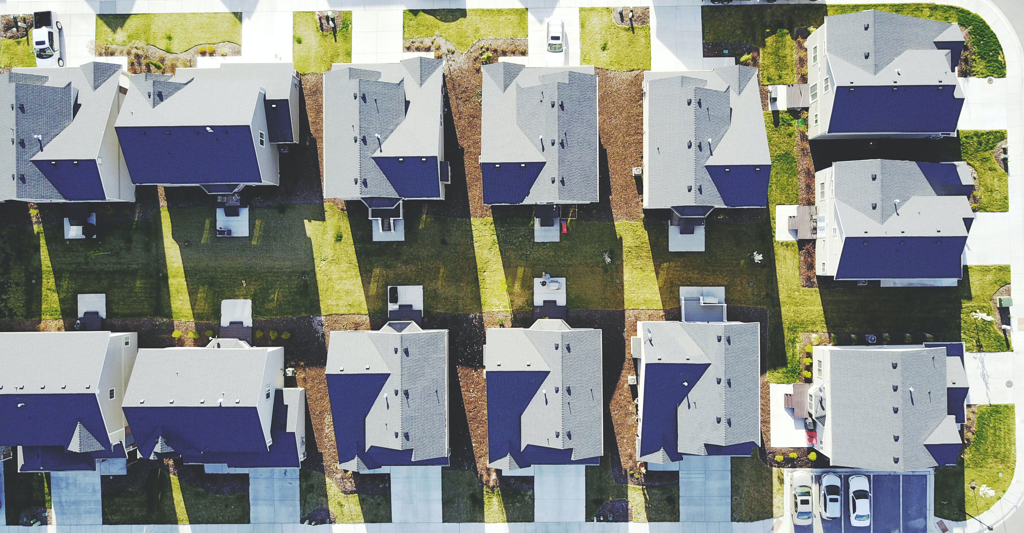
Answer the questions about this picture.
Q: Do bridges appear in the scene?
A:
No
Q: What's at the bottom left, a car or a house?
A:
house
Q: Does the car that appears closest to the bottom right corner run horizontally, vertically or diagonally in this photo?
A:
vertically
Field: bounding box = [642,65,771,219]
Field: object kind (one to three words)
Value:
house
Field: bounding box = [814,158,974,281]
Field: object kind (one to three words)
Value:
house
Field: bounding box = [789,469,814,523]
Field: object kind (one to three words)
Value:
car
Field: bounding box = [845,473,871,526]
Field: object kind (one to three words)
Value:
car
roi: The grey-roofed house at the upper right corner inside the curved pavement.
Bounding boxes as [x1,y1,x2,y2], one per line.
[806,10,965,140]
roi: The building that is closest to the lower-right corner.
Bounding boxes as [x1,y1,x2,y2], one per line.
[807,341,969,474]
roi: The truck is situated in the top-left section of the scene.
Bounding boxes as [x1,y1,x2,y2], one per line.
[36,9,67,66]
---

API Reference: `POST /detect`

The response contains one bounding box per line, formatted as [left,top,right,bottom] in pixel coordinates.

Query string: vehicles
[544,18,568,65]
[36,9,67,66]
[789,469,814,523]
[845,473,871,526]
[759,0,819,5]
[817,471,842,519]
